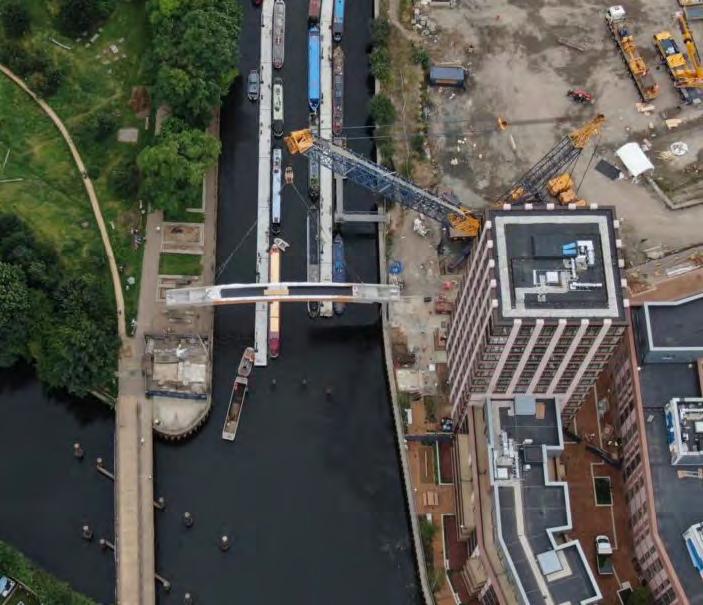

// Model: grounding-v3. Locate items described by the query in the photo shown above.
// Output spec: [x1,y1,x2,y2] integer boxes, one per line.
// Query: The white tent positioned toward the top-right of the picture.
[615,139,655,179]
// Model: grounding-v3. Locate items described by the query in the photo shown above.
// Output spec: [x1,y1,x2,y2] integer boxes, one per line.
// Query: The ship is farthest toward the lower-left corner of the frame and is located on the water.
[220,374,250,442]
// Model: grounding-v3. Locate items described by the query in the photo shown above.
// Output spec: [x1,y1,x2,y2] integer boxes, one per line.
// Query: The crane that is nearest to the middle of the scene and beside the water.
[277,113,608,265]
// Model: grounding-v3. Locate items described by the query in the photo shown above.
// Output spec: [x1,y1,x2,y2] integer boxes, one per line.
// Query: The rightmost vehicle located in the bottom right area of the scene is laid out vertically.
[595,535,612,573]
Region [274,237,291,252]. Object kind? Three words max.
boat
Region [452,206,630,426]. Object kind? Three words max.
building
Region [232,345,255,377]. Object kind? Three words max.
boat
